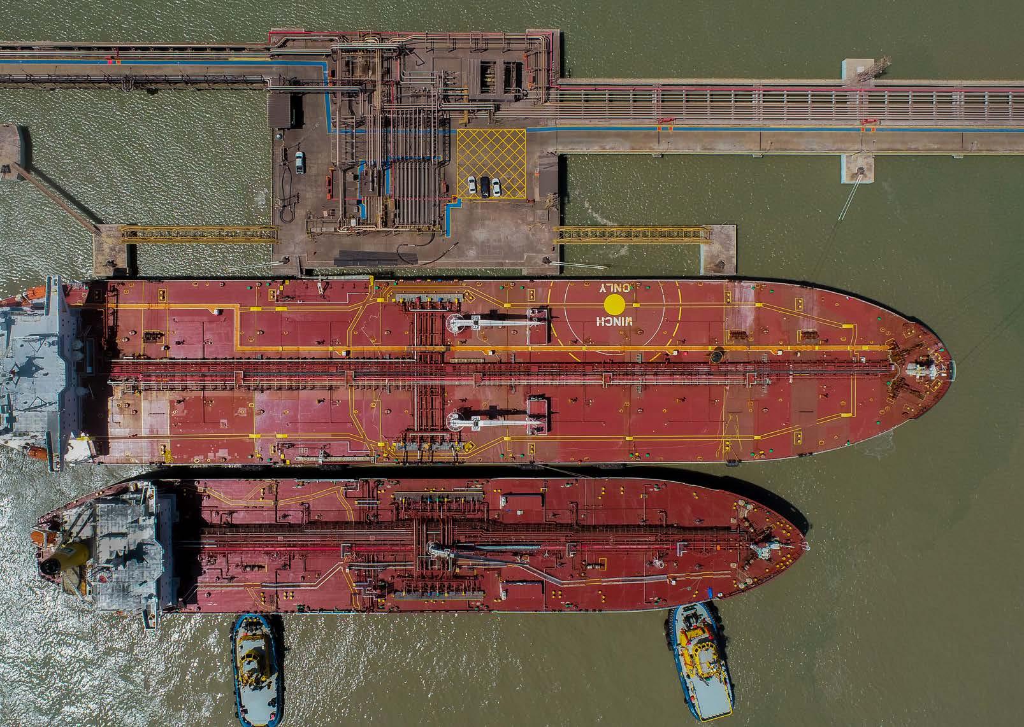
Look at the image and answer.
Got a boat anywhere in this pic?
Yes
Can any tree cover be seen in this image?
No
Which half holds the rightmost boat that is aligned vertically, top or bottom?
bottom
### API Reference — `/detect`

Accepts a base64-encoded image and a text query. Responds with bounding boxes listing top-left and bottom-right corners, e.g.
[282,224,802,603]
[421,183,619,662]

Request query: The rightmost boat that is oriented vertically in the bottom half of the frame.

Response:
[669,603,738,723]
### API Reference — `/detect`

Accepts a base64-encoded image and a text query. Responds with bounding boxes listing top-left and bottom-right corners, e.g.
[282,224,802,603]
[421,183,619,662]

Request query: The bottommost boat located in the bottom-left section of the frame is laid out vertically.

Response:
[232,615,282,727]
